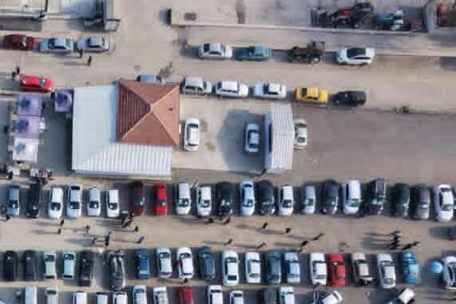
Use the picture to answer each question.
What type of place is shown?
parking lot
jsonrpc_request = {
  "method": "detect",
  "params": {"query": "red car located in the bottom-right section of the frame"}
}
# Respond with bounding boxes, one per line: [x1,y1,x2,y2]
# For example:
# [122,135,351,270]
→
[328,254,346,287]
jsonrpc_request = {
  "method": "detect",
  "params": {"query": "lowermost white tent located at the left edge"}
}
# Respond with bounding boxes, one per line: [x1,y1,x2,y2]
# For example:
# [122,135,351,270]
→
[12,138,38,166]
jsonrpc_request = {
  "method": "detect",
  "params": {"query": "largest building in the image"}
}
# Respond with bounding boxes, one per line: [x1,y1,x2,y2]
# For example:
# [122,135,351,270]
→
[72,80,180,184]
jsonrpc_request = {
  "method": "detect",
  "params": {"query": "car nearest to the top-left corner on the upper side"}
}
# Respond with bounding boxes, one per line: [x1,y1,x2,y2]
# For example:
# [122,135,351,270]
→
[2,35,35,52]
